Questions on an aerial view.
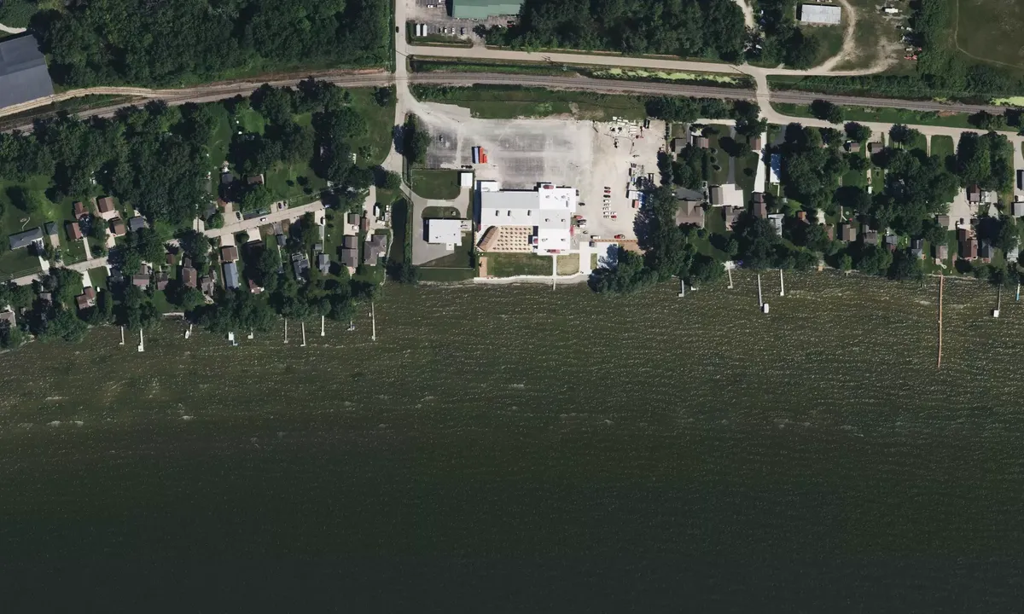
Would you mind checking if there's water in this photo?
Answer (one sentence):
Yes, water can be seen from above here.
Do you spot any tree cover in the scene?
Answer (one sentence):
Yes, tree cover can be seen from above here.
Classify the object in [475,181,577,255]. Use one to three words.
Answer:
building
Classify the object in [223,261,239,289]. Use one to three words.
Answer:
house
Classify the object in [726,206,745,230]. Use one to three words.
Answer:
house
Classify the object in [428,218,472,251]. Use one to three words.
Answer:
building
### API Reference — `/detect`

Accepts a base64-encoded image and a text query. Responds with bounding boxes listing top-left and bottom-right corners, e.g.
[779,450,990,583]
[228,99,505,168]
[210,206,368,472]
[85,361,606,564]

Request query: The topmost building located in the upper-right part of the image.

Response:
[801,3,842,24]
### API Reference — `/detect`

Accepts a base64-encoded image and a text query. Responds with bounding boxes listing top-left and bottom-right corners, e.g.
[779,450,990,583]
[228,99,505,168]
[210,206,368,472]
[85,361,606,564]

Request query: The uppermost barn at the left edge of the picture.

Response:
[0,35,48,107]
